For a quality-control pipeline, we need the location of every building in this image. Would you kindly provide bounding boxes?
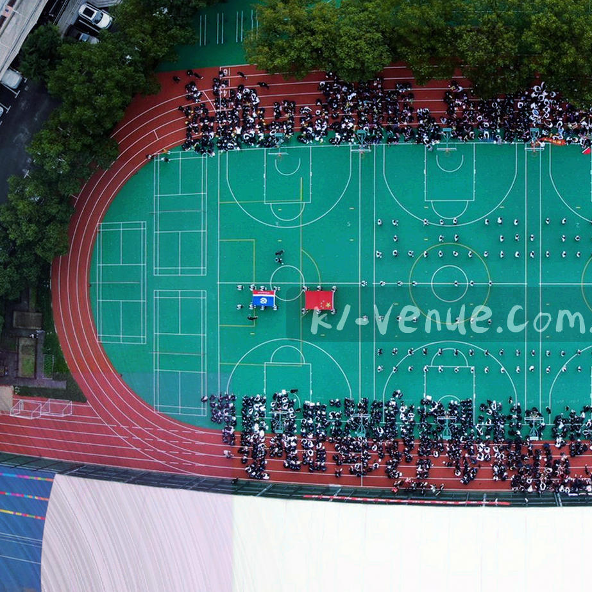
[0,0,56,77]
[0,451,592,592]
